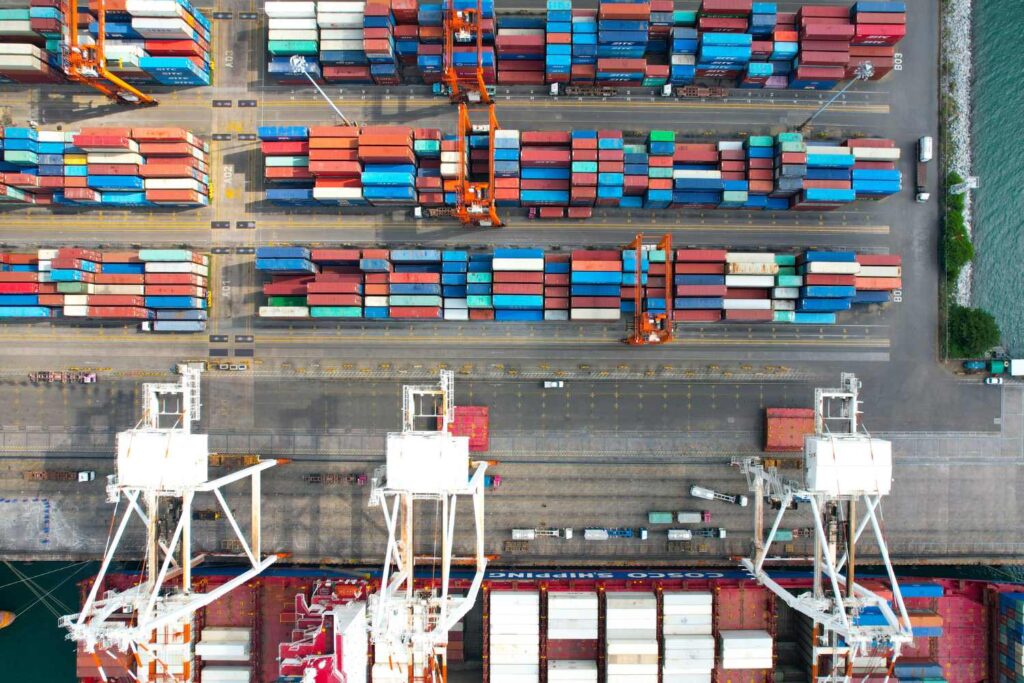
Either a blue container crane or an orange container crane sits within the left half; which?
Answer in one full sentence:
The one visible within the left half is an orange container crane.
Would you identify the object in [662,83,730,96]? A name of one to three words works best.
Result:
vehicle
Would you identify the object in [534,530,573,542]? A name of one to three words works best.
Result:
vehicle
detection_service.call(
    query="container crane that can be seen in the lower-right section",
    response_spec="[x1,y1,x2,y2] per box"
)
[728,371,923,683]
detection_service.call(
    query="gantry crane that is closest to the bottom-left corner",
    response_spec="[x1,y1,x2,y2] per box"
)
[60,365,288,683]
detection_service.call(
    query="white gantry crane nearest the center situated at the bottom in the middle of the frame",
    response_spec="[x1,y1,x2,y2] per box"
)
[365,367,503,683]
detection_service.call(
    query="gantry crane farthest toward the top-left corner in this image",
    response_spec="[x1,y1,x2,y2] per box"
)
[65,0,163,104]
